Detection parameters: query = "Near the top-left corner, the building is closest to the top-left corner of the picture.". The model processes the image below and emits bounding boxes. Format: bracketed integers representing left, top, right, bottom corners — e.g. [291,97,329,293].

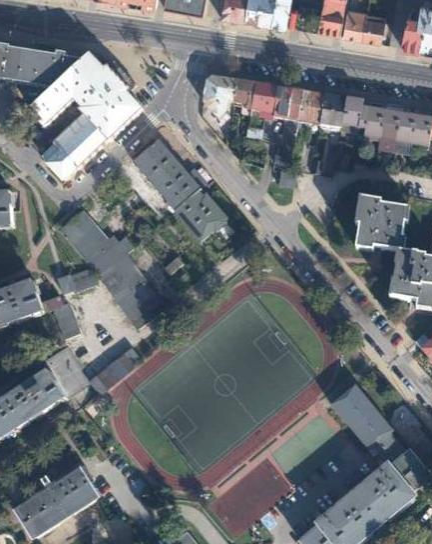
[0,43,69,89]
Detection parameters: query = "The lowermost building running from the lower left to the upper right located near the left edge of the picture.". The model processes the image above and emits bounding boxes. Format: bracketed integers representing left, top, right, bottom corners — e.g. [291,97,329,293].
[12,465,99,540]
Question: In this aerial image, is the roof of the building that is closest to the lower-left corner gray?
Yes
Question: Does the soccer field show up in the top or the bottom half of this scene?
bottom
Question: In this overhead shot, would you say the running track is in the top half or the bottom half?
bottom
